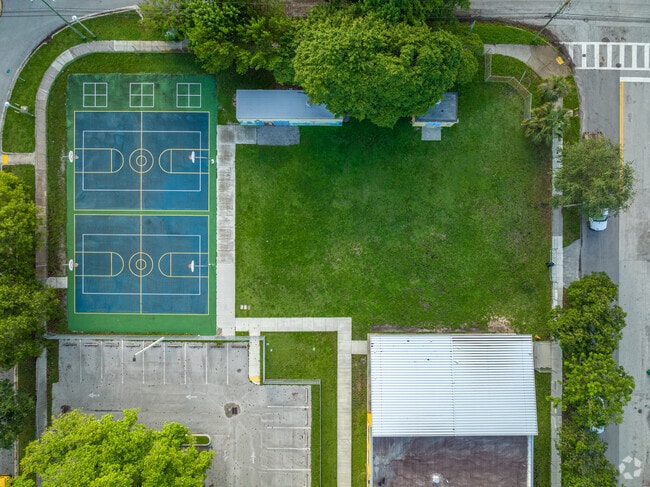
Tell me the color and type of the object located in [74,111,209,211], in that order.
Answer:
blue basketball court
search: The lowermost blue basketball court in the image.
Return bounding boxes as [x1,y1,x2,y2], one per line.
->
[74,215,209,314]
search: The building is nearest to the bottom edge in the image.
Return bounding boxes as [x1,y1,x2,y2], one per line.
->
[367,331,539,487]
